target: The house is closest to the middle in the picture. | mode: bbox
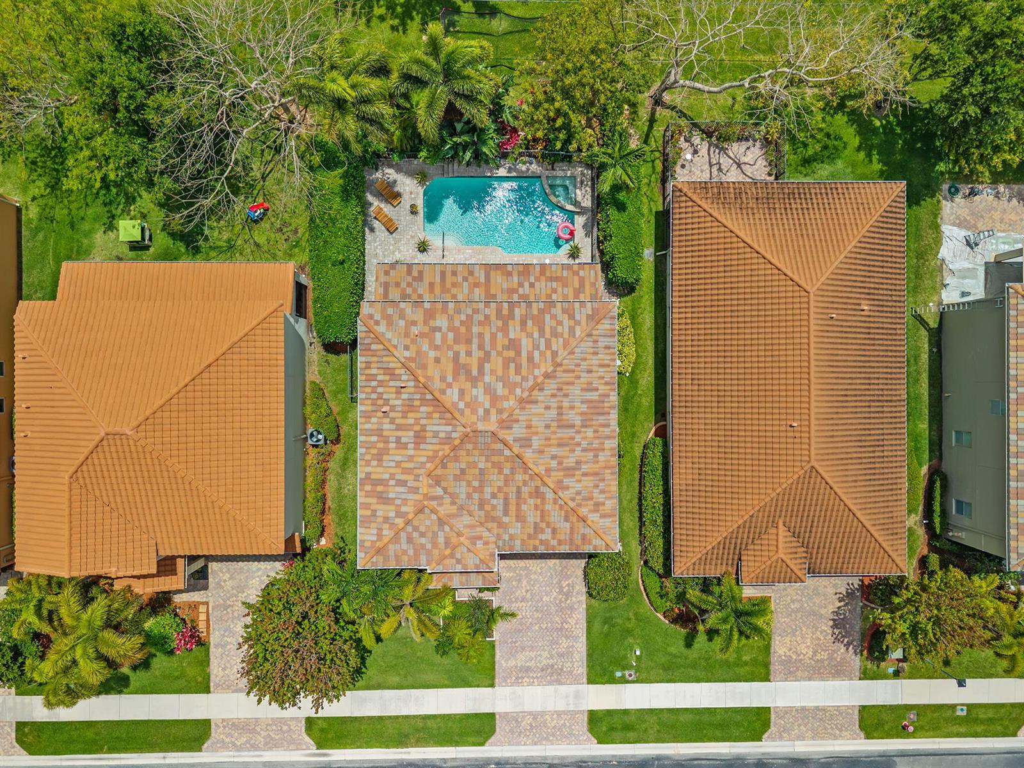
[355,261,621,589]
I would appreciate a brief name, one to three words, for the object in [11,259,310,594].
house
